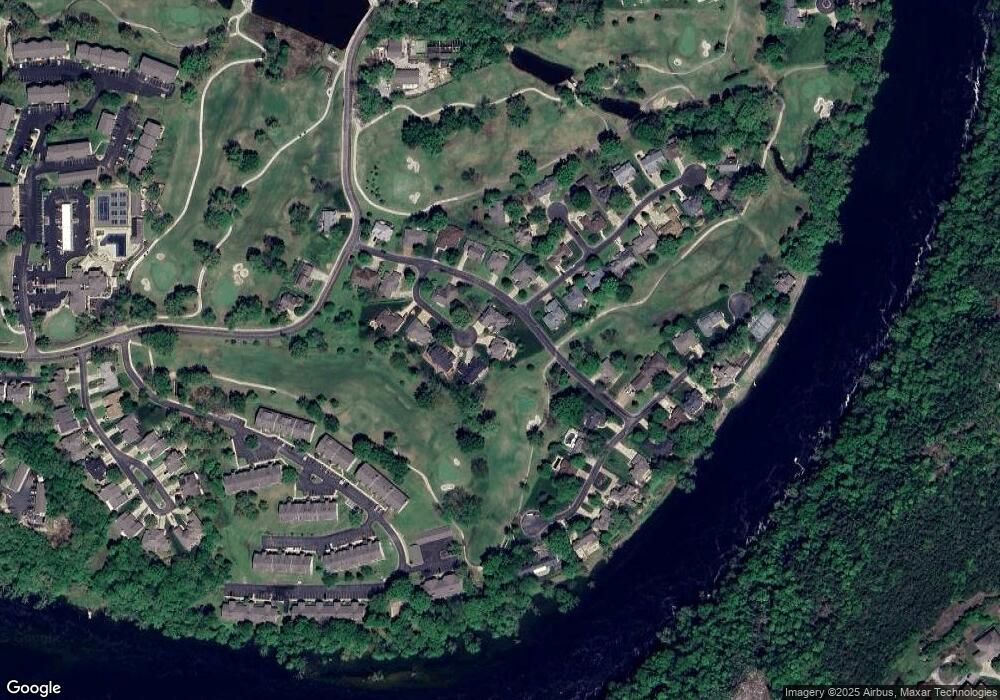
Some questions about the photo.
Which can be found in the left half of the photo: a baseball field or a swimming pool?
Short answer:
swimming pool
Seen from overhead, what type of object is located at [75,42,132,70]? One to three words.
building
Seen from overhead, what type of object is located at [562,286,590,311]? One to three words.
house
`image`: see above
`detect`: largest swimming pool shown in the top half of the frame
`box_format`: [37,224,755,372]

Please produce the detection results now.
[97,231,130,259]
